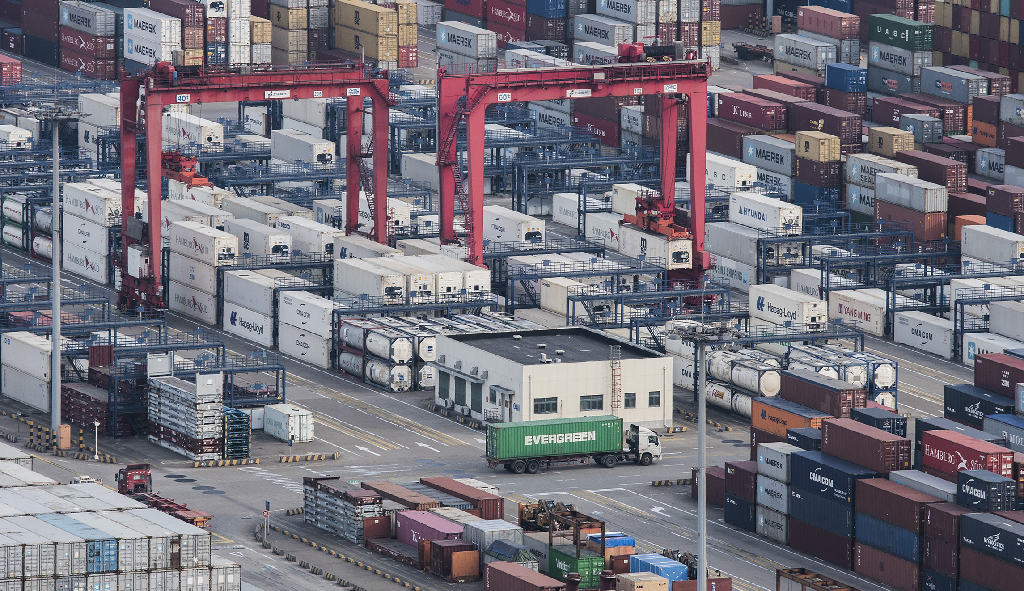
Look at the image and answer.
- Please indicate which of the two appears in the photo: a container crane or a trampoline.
container crane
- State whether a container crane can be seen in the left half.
Yes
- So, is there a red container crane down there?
Yes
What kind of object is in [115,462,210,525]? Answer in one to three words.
truck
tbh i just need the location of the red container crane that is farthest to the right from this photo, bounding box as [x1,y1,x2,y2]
[435,39,728,315]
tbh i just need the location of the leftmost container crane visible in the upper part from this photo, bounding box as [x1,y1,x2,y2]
[105,42,401,329]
